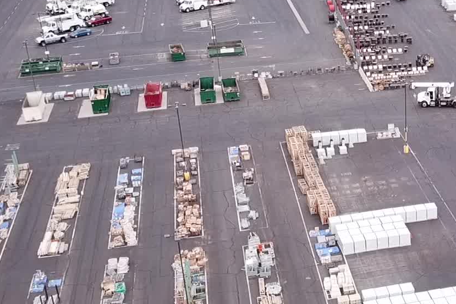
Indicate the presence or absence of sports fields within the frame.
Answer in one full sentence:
No, there appears to be no sports field in this shot.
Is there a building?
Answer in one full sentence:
No, no building is visible in the view.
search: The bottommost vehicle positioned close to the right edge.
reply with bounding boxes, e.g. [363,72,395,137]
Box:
[410,83,456,110]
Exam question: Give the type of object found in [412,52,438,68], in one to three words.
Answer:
work vehicle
